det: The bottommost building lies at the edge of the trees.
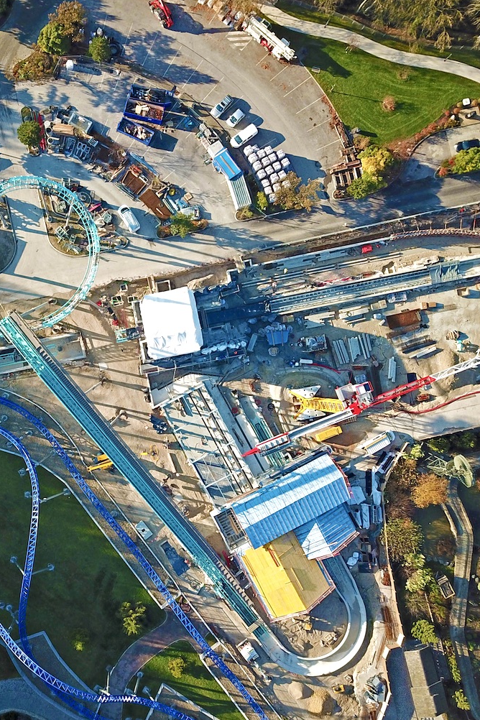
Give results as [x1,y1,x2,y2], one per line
[400,641,448,718]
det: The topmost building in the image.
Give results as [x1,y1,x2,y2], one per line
[139,288,205,360]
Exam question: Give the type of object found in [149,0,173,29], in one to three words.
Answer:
work vehicle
